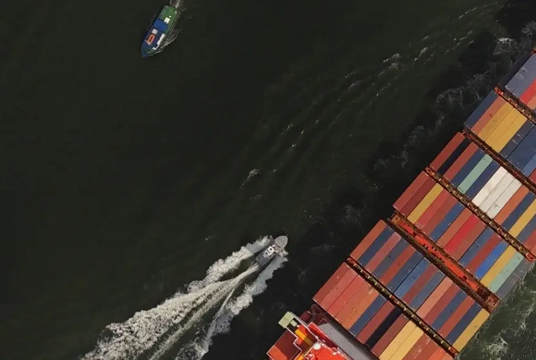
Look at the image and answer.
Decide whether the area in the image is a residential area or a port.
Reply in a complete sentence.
What you see here is a port.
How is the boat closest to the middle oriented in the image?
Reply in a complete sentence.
The boat closest to the middle is laid out at an angle.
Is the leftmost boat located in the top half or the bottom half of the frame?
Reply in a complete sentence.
You can find the leftmost boat in the top half.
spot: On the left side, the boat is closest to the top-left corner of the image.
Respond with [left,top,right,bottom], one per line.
[140,5,179,56]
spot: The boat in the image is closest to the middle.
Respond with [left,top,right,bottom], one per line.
[254,234,286,266]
